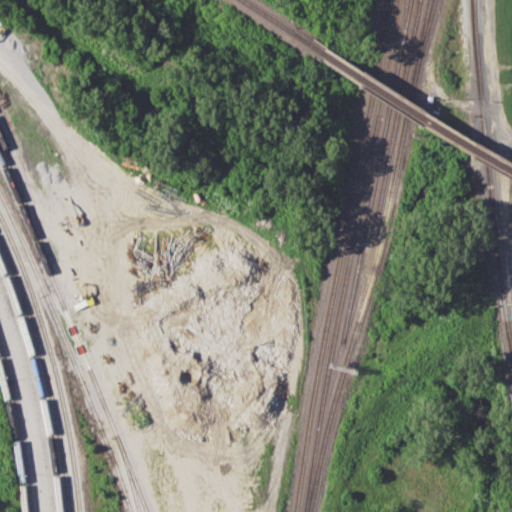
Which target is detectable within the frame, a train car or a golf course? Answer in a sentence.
The one in the frame is a train car.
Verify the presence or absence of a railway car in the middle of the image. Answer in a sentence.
No, no railway car is visible in the middle of the image.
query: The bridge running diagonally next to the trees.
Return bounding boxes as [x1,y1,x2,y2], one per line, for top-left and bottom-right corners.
[234,0,512,177]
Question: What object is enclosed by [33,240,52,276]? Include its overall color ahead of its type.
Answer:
gray rail car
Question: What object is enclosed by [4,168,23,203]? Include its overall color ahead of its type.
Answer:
gray rail car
